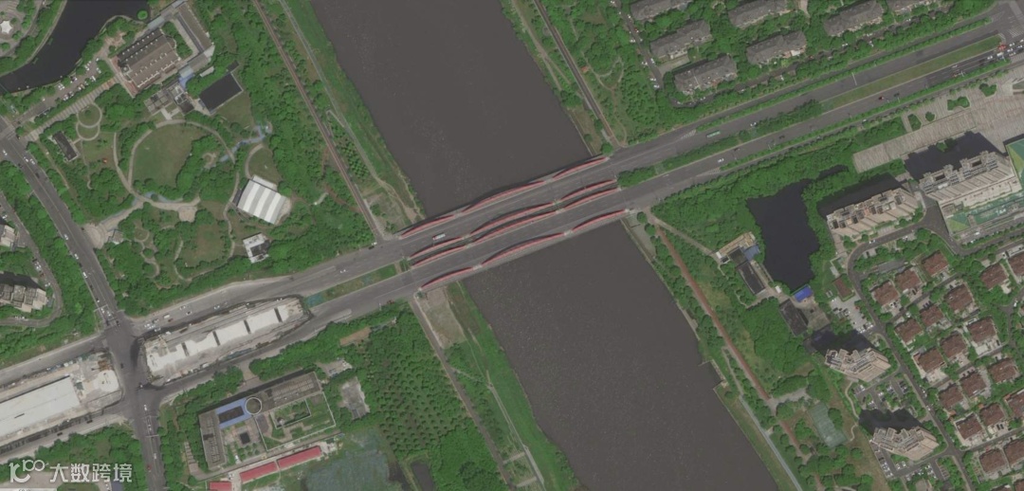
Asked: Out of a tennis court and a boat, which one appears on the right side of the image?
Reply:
tennis court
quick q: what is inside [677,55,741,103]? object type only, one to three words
building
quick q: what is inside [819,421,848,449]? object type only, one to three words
tennis court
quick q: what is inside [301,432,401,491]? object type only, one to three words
pond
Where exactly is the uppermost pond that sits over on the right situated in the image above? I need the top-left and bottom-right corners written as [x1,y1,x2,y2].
[748,179,818,294]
